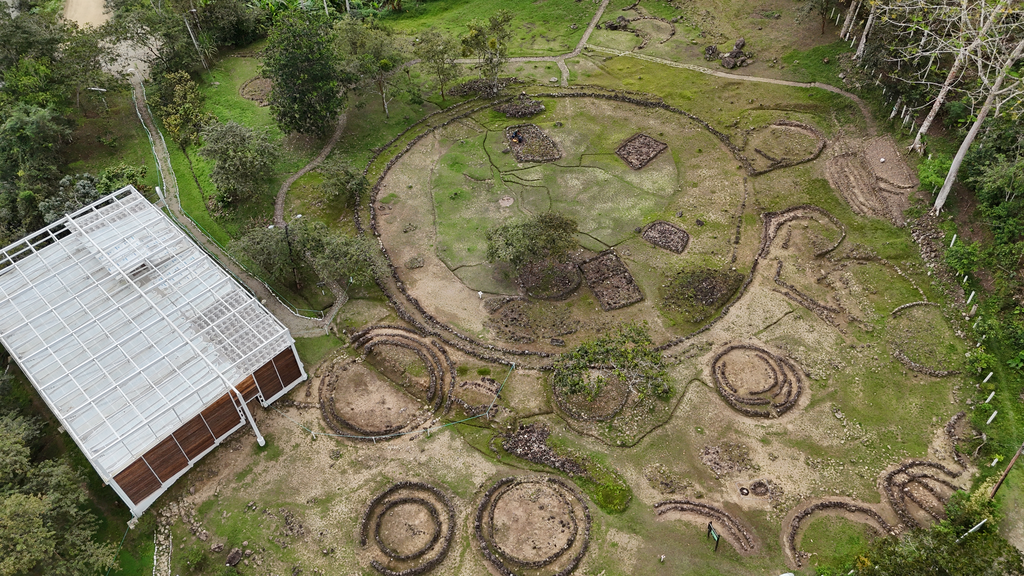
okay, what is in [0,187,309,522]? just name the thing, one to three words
shed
